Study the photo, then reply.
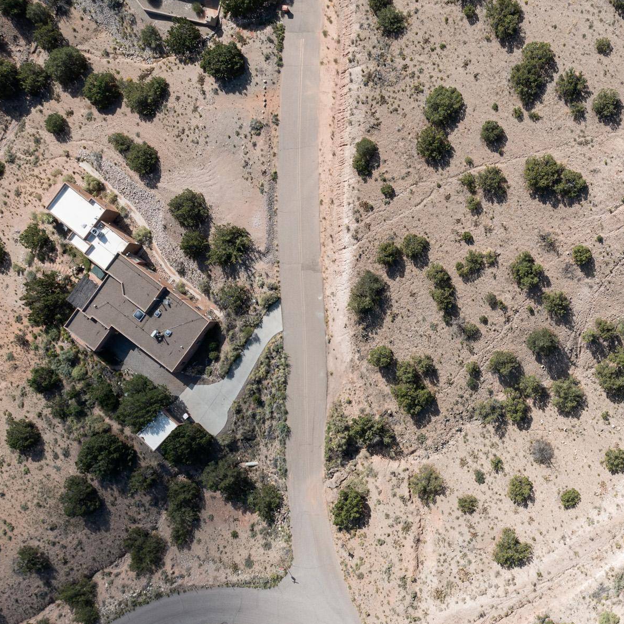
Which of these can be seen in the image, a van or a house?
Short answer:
house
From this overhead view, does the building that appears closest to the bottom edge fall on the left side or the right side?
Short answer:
left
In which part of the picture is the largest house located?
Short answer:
left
